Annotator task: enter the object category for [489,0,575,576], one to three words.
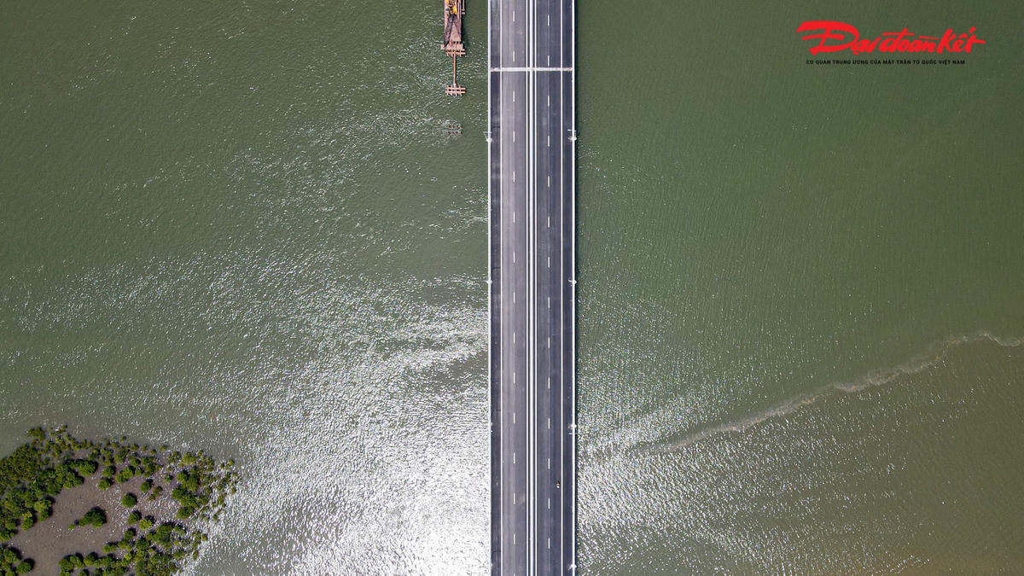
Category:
bridge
